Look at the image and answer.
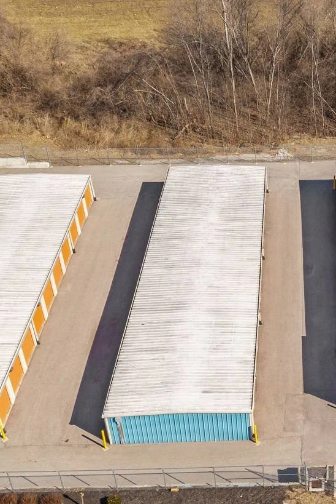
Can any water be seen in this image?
No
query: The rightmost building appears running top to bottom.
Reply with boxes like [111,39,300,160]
[101,165,268,446]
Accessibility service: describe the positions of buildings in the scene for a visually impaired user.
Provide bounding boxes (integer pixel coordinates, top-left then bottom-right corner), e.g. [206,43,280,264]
[0,173,96,436]
[101,165,268,446]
